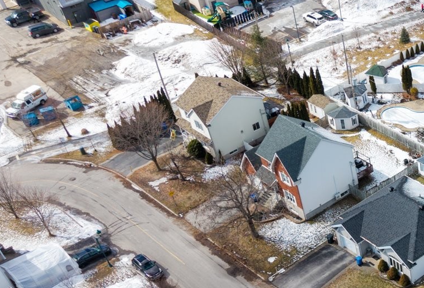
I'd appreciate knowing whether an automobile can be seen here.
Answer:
Yes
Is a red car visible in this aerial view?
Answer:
No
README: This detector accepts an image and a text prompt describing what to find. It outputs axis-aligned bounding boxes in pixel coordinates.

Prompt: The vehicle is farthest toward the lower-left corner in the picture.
[78,240,117,266]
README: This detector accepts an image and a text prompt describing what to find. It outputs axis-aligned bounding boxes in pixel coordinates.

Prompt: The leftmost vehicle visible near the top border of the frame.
[6,9,43,26]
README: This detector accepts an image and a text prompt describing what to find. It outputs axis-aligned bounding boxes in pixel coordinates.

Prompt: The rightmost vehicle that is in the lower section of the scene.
[127,253,167,282]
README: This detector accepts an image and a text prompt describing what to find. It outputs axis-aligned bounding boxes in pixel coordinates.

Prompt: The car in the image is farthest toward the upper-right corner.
[317,9,340,22]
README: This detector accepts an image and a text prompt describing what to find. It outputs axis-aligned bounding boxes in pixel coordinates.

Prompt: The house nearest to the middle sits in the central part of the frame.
[166,77,273,165]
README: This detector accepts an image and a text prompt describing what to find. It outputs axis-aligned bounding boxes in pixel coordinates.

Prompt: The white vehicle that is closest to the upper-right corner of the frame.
[303,13,326,27]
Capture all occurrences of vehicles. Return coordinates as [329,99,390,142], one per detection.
[27,22,61,38]
[127,253,167,282]
[78,240,117,266]
[303,13,326,27]
[4,80,46,115]
[6,9,43,26]
[317,9,340,22]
